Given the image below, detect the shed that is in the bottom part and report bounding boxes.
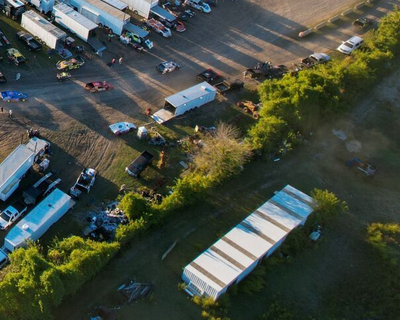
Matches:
[181,184,332,310]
